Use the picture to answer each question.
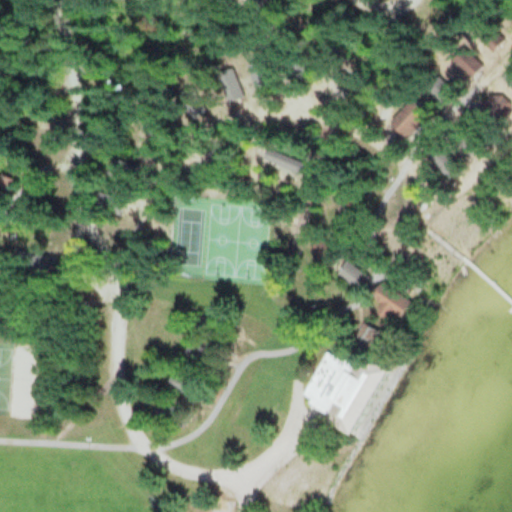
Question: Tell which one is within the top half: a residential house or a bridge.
residential house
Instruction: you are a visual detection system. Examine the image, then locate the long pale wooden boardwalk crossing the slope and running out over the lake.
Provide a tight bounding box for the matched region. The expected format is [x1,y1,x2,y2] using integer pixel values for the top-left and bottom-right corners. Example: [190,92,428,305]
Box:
[428,229,512,304]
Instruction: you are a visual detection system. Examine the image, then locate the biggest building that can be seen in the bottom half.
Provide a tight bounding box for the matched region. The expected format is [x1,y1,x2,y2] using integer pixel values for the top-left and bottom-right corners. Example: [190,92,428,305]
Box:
[304,352,388,435]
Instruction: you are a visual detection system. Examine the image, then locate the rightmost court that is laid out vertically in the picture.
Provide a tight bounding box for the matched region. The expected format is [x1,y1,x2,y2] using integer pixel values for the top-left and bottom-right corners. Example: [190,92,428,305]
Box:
[236,208,270,281]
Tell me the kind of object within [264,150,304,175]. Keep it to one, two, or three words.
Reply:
building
